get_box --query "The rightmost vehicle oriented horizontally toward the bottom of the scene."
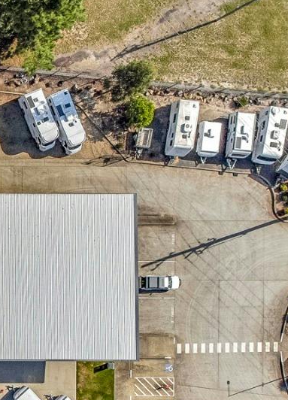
[138,273,179,292]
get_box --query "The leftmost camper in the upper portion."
[13,89,59,155]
